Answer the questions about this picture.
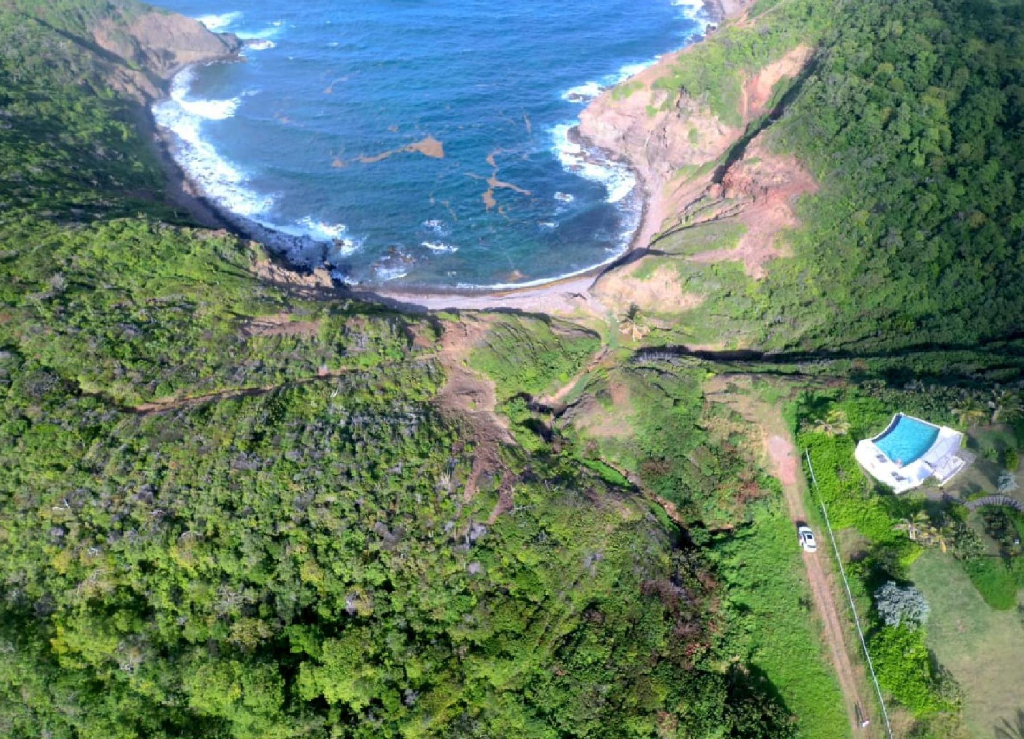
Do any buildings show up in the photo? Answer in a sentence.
No, this view has no building in it.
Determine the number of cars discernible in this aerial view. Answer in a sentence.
I count just 1 car.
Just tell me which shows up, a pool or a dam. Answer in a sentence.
Looking from above, you can make out a pool.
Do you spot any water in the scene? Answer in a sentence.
Yes, some water is visible.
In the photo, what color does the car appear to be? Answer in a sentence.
The car is white.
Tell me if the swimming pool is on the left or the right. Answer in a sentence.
You can find the swimming pool on the right side of the picture.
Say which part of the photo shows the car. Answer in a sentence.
Look in the bottom right portion of the view to spot the car.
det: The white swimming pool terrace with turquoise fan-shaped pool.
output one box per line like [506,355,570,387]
[852,411,963,497]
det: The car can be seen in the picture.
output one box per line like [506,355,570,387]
[794,525,816,554]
